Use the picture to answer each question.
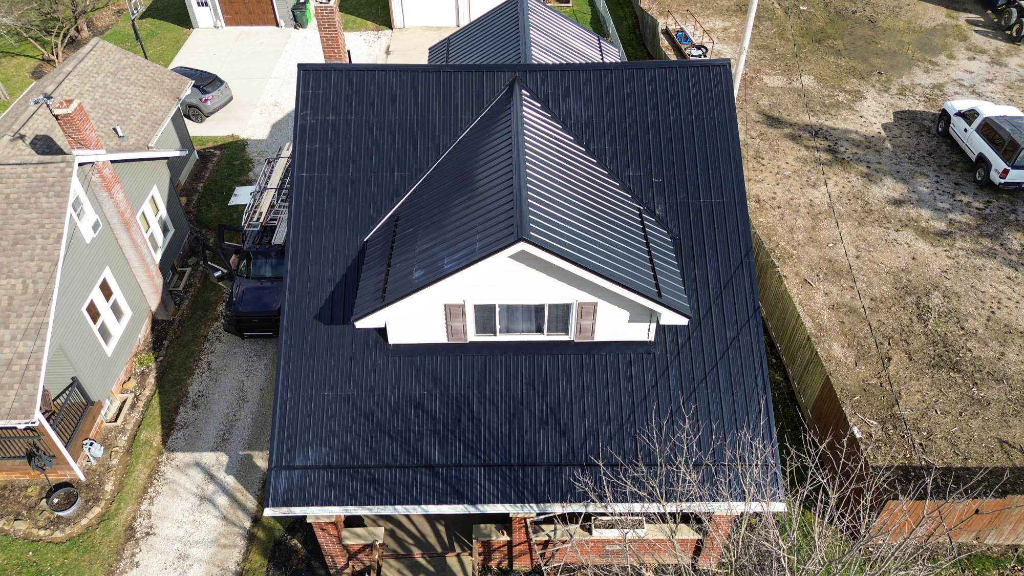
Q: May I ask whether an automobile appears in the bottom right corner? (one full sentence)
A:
No, I can find no automobile in the bottom right corner.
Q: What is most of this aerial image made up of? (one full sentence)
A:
Most of the picture is covered by buildings.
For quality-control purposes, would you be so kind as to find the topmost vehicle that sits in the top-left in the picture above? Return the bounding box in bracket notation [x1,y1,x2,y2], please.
[173,67,237,122]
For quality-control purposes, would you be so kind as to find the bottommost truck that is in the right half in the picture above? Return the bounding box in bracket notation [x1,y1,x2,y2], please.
[935,100,1024,193]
